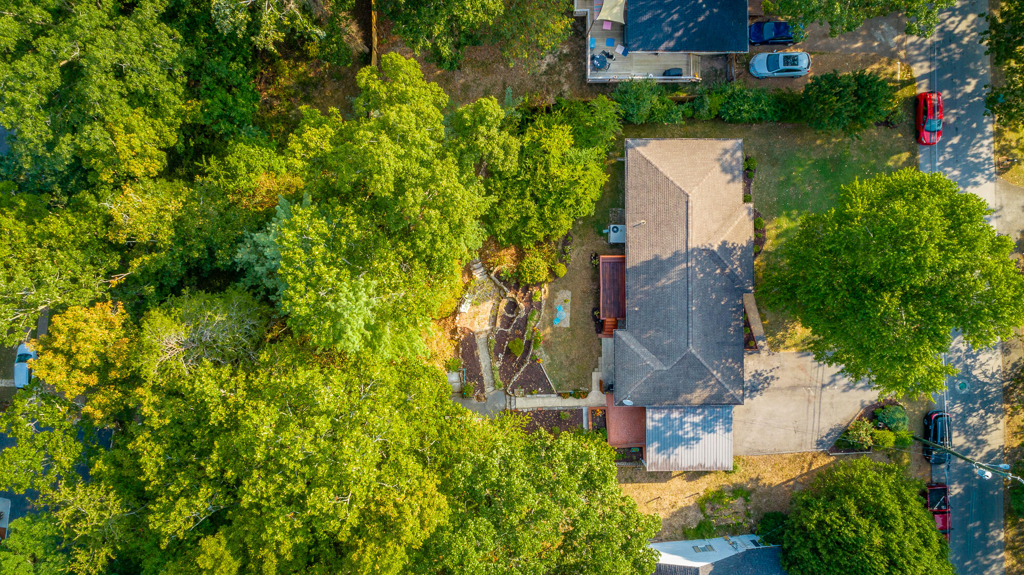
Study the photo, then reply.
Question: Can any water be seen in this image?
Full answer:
No, water can't be seen anywhere here.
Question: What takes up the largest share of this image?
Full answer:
For the most part, this view shows trees.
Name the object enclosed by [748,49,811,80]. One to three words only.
car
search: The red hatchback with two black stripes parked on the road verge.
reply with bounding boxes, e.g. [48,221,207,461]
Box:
[915,90,947,145]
